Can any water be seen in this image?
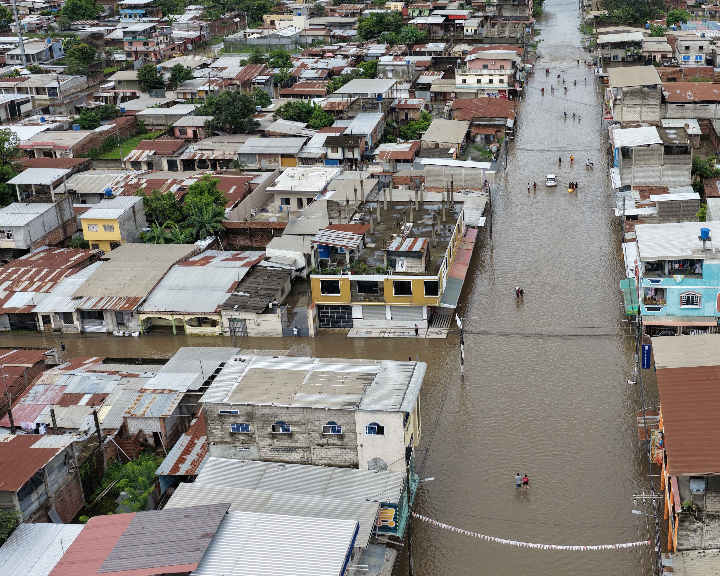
Yes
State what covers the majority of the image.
buildings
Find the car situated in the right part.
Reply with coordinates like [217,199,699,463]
[545,173,558,186]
